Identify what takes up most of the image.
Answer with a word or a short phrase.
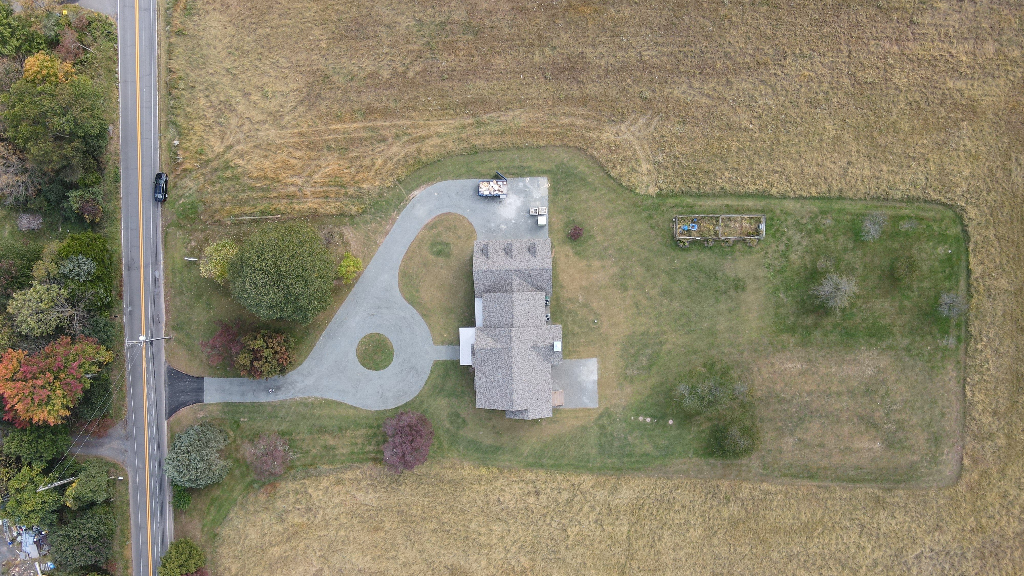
grass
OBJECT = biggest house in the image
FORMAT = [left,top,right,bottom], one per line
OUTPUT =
[459,239,563,420]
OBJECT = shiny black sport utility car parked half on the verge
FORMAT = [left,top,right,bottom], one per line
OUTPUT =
[153,172,170,202]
